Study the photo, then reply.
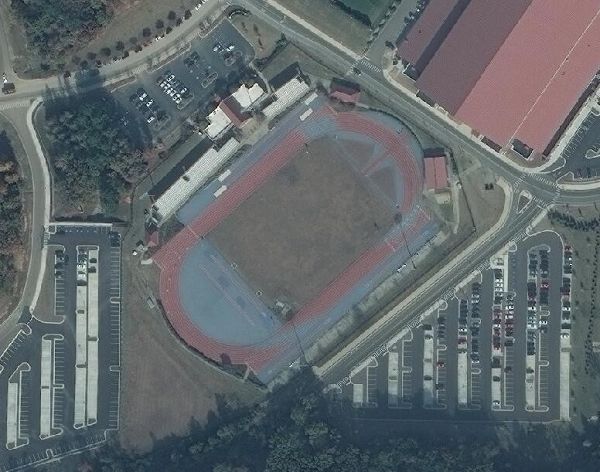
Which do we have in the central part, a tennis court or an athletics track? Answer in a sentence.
Visible in the central part is an athletics track.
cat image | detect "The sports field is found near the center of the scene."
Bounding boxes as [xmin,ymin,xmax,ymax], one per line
[205,136,396,324]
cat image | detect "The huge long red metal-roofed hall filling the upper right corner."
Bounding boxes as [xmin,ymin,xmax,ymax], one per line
[395,0,600,160]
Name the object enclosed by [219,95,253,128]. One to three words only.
building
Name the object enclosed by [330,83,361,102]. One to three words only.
building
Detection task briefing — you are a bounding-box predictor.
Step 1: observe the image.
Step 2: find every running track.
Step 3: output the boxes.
[152,93,442,381]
